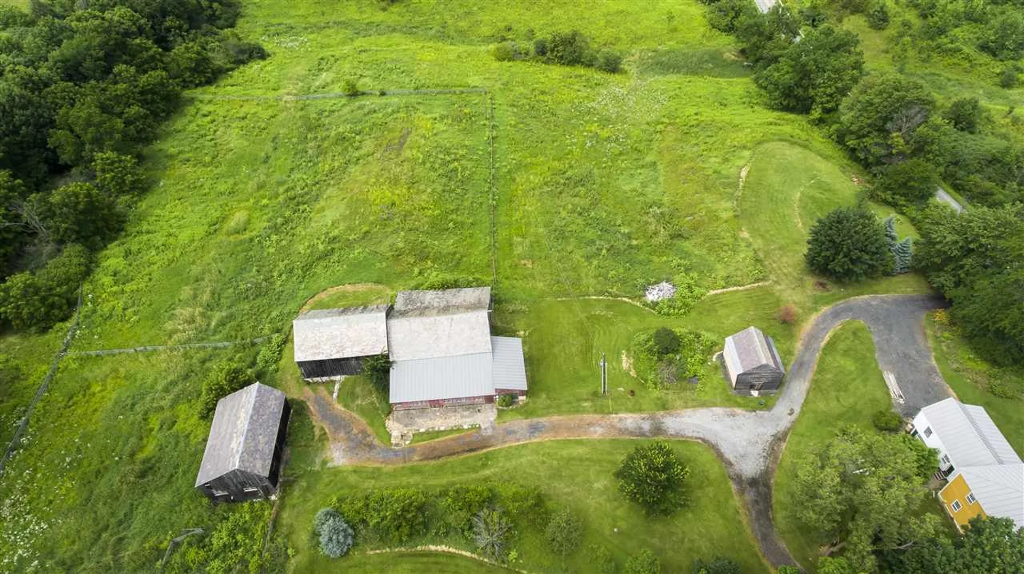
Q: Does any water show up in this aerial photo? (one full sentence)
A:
No, there's no water in this view.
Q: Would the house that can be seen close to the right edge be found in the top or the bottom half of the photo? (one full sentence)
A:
The house that can be seen close to the right edge sits in the bottom half of the picture.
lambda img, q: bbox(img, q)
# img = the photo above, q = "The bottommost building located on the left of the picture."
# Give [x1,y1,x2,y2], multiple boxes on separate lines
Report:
[193,382,289,495]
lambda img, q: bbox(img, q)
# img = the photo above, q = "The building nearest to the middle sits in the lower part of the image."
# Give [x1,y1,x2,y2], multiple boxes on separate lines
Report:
[388,287,528,413]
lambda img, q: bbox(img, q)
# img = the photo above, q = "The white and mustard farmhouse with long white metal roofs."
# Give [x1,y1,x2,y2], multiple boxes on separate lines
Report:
[911,395,1024,544]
